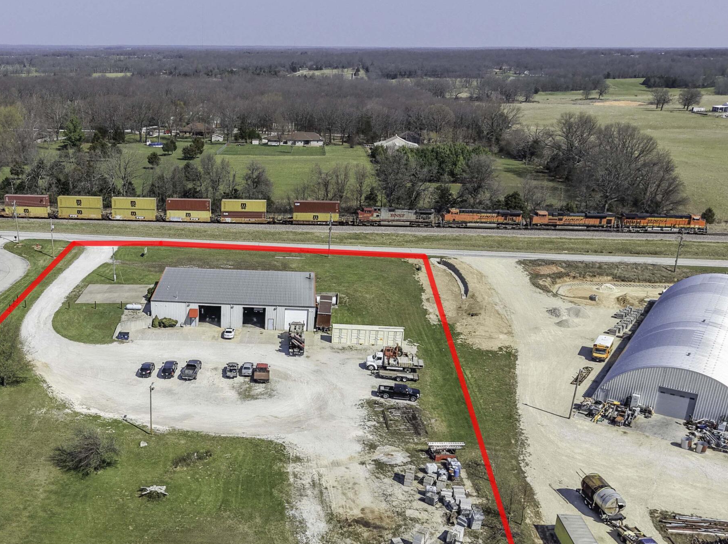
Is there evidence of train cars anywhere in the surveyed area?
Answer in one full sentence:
Yes, there is a train car in the image.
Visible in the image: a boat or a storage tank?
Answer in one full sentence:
The one in the frame is a storage tank.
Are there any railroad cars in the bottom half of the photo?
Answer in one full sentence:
No, no railroad car is visible in the bottom half of the photo.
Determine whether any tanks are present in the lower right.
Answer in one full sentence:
Yes, a tank appears in the lower right.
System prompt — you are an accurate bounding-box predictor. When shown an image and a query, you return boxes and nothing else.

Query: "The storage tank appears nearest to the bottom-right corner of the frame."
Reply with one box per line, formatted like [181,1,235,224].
[575,461,632,513]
